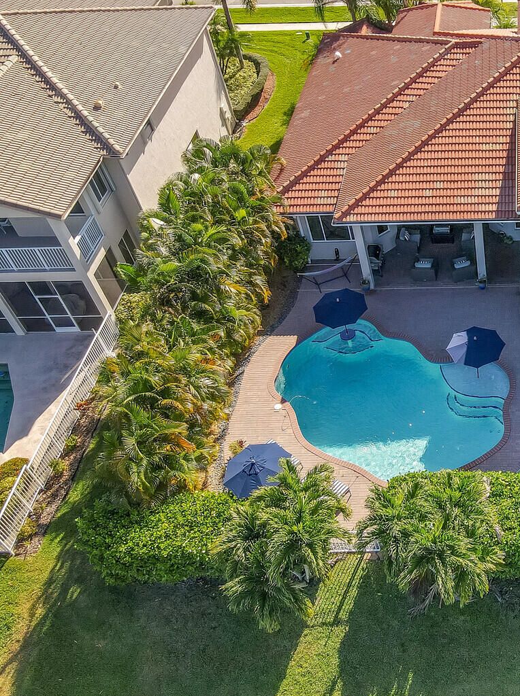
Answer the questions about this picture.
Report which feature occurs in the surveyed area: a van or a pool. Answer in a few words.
pool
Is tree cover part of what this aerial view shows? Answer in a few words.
Yes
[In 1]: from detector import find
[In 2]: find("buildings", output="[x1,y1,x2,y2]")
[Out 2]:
[262,0,520,292]
[0,0,240,333]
